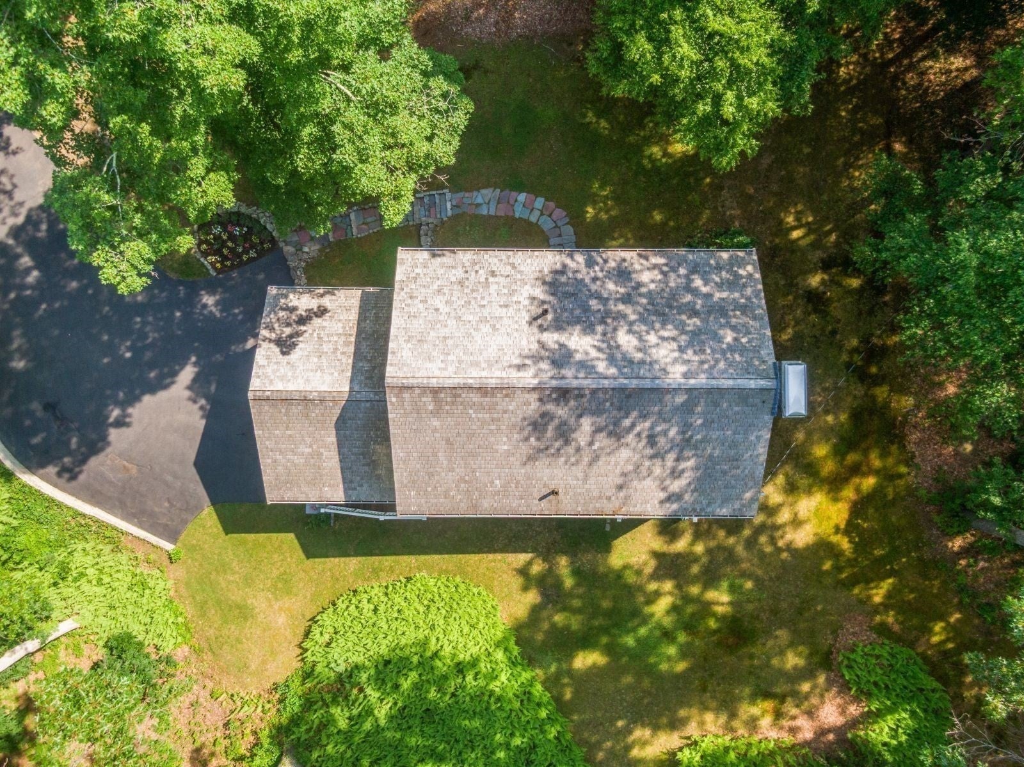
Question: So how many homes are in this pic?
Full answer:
There is 1 home in the image.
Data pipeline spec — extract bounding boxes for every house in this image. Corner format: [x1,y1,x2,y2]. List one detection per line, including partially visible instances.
[247,247,807,520]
